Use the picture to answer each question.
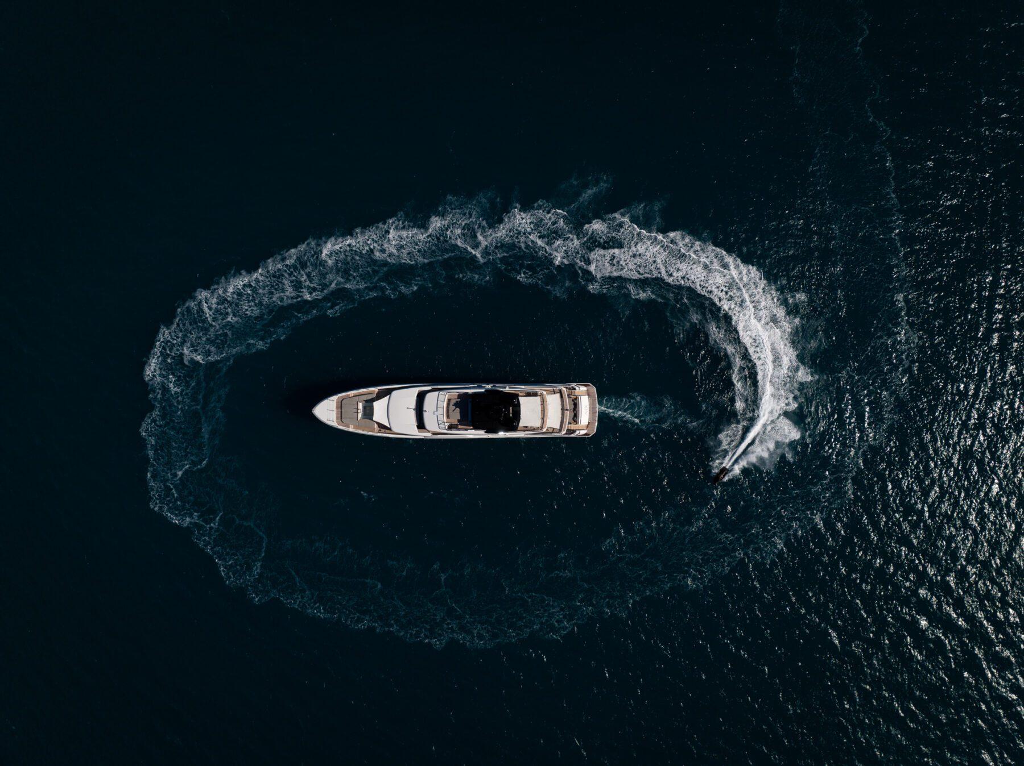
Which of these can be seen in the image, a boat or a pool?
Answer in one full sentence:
The image shows a boat.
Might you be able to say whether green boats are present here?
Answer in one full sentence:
No, the photo shows no green boat.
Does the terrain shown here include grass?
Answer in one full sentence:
No, no grass is visible.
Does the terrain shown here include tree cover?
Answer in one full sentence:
No, the picture contains no tree cover.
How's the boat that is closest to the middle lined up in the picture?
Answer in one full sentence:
I'd say the boat that is closest to the middle is aligned from side to side in the picture.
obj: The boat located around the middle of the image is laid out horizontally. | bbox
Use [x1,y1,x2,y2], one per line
[312,383,598,438]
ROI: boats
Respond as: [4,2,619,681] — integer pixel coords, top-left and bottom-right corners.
[312,383,598,438]
[714,466,731,487]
